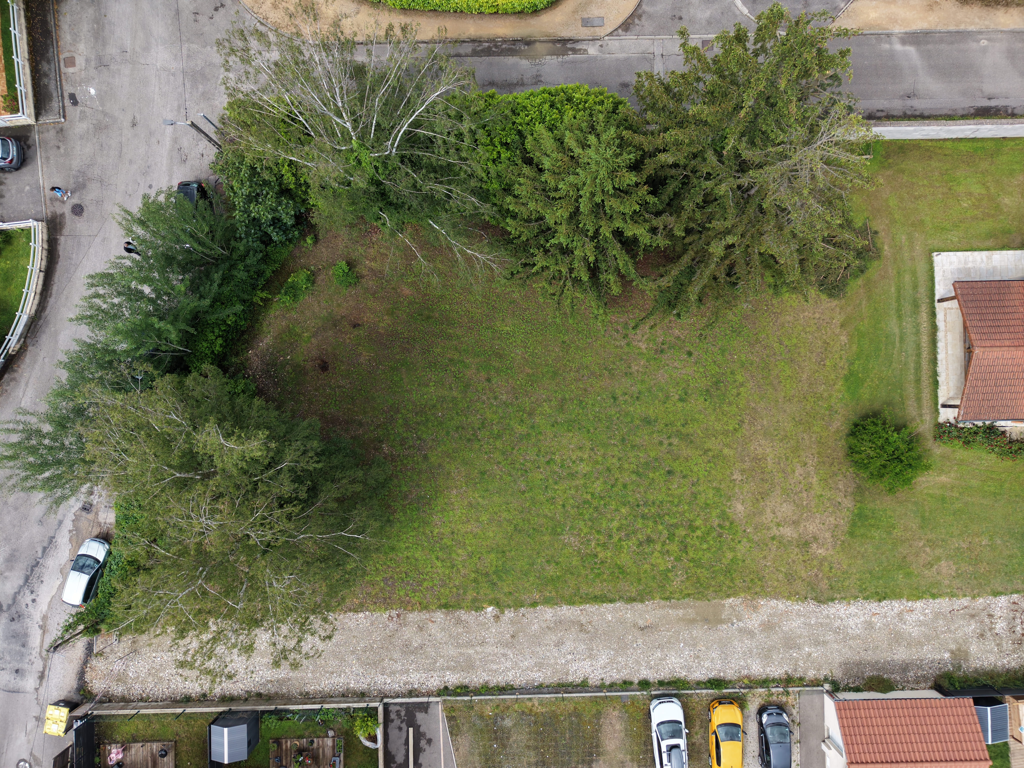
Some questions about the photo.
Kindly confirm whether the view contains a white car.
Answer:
Yes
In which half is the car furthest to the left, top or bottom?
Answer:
top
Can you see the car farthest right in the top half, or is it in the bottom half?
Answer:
bottom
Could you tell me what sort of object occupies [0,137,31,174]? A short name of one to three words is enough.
car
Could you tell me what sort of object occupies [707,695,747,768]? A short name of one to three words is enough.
car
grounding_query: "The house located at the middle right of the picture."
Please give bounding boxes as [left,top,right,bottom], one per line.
[939,278,1024,422]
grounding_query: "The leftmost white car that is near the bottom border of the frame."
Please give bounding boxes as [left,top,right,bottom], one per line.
[648,695,689,768]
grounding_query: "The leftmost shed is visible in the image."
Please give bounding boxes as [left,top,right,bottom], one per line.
[211,710,259,762]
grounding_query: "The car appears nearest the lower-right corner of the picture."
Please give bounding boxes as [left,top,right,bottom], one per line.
[755,702,795,768]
